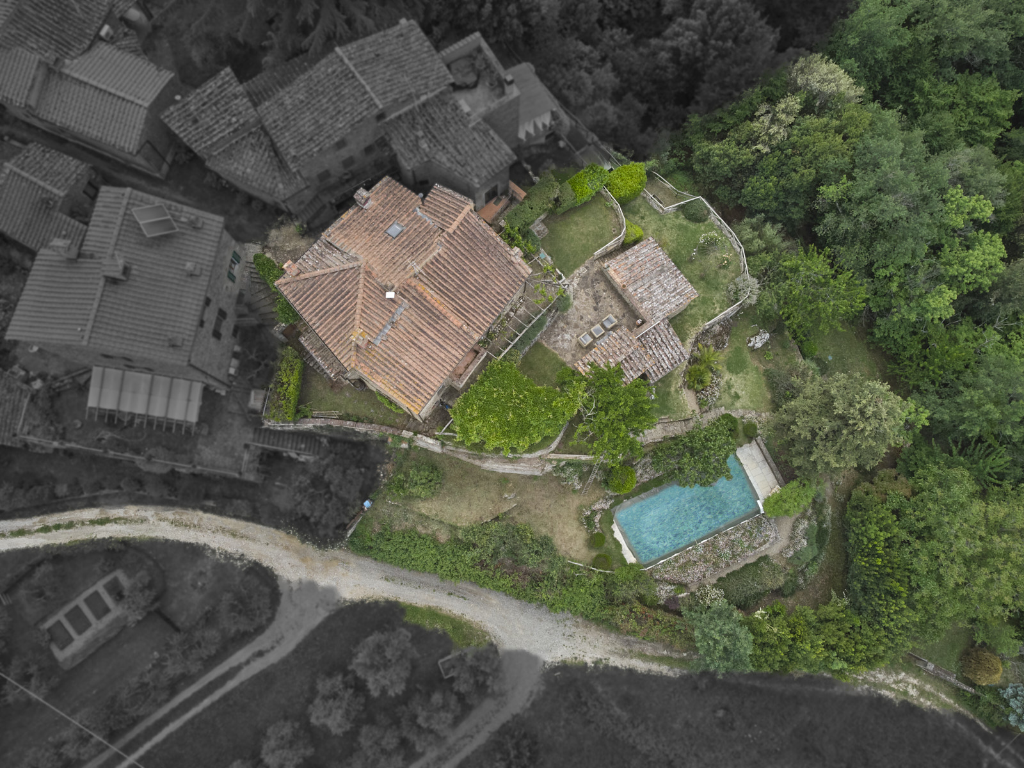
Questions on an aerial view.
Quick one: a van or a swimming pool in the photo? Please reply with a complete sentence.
The image shows a swimming pool.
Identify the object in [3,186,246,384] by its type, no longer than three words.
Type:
house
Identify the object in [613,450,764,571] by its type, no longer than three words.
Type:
swimming pool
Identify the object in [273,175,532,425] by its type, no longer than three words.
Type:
house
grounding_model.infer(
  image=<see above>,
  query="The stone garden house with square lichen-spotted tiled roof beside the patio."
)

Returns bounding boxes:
[600,236,700,328]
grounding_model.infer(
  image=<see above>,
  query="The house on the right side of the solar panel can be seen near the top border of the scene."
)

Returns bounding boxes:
[160,14,516,222]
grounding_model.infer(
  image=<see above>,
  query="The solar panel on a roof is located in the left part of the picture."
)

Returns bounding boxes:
[131,203,186,246]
